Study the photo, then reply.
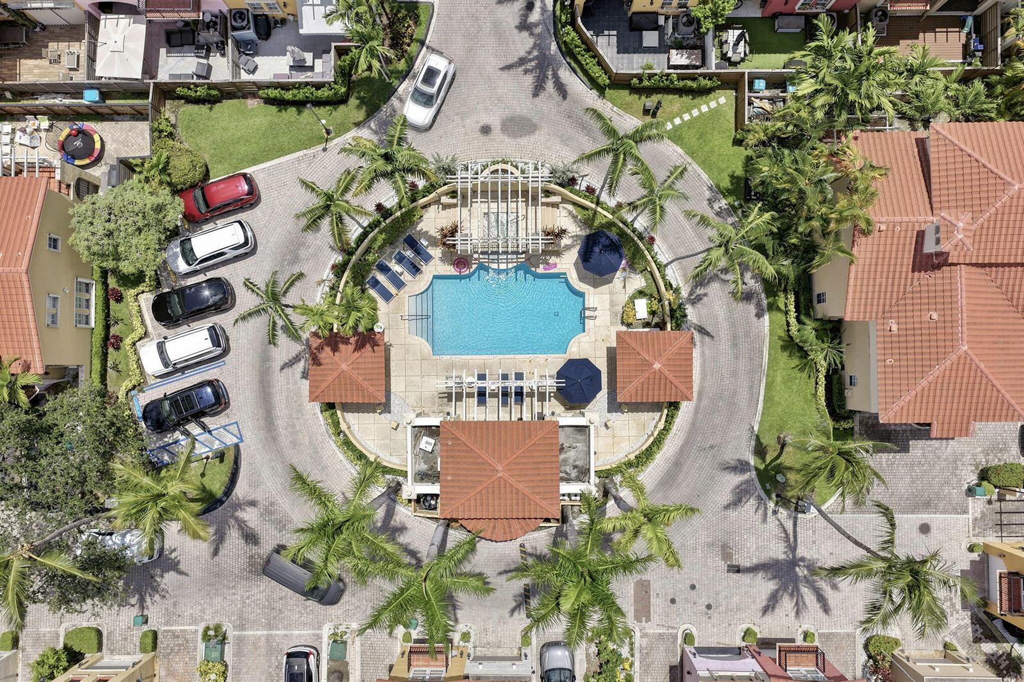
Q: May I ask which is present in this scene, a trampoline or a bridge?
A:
trampoline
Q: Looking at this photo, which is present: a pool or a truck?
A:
pool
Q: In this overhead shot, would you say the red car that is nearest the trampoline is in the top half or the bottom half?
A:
top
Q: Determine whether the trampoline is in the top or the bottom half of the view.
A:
top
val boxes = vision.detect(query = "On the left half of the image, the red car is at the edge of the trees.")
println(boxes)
[177,174,260,225]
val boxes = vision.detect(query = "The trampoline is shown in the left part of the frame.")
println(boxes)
[42,115,108,170]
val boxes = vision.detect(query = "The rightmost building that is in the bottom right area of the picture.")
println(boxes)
[980,543,1024,622]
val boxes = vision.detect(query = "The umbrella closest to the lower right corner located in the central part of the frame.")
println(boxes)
[555,358,600,403]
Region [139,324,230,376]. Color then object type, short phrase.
white car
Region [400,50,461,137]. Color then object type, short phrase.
white car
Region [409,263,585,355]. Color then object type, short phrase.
blue swimming pool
